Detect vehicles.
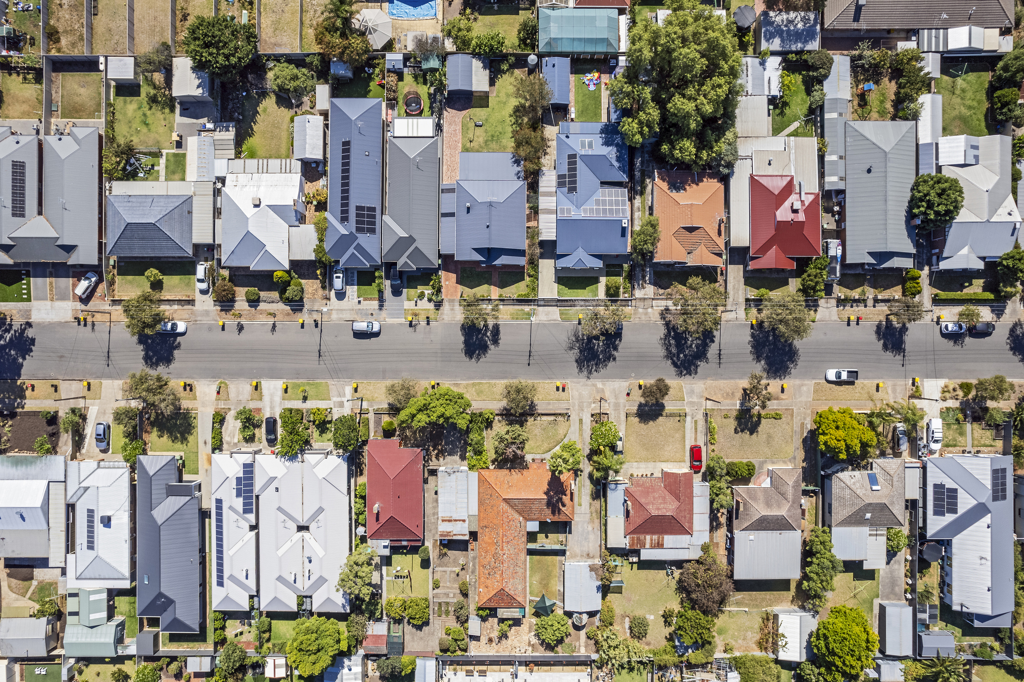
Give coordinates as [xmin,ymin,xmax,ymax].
[825,368,860,382]
[155,320,188,334]
[389,264,403,292]
[825,238,842,283]
[194,263,210,291]
[331,264,346,292]
[968,321,996,334]
[689,445,704,471]
[611,432,625,457]
[352,320,382,334]
[927,418,945,451]
[939,321,965,334]
[264,417,278,447]
[73,271,100,300]
[893,423,908,453]
[94,421,111,449]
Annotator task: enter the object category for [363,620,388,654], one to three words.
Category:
shed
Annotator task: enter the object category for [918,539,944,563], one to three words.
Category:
gazebo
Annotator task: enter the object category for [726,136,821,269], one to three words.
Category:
house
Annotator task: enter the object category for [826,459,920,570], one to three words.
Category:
house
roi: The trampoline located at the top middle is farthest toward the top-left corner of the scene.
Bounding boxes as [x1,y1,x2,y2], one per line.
[402,88,422,110]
